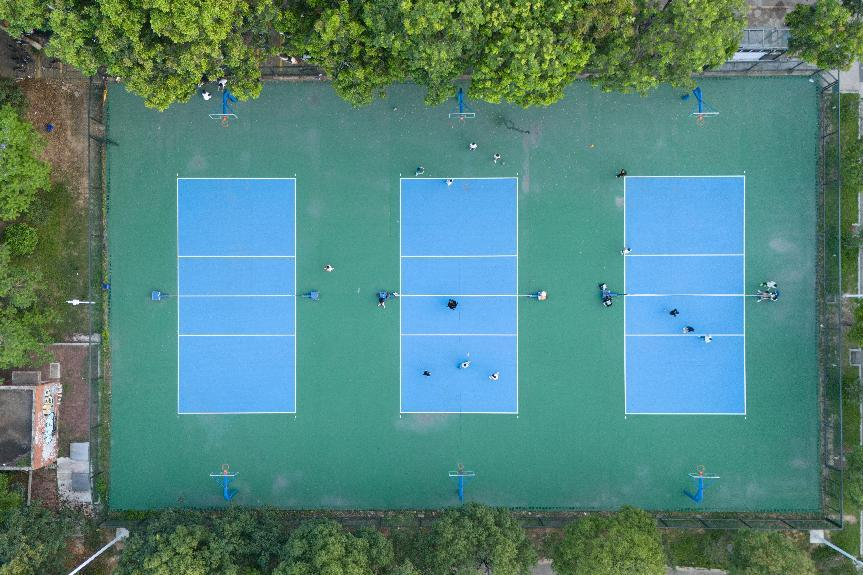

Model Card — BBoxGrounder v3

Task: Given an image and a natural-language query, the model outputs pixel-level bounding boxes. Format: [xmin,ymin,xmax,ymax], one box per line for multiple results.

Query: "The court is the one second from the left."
[400,173,518,417]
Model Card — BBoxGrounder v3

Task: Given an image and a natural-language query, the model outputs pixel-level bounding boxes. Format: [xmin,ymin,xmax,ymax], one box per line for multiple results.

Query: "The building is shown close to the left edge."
[0,380,59,470]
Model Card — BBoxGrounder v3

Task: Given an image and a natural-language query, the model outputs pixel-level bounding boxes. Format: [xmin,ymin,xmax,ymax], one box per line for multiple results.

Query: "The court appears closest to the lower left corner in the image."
[178,174,296,418]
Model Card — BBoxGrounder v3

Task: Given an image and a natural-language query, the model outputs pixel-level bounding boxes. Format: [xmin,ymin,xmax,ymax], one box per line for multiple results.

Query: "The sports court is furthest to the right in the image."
[624,171,747,420]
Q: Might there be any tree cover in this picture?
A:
Yes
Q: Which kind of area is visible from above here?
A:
sports ground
